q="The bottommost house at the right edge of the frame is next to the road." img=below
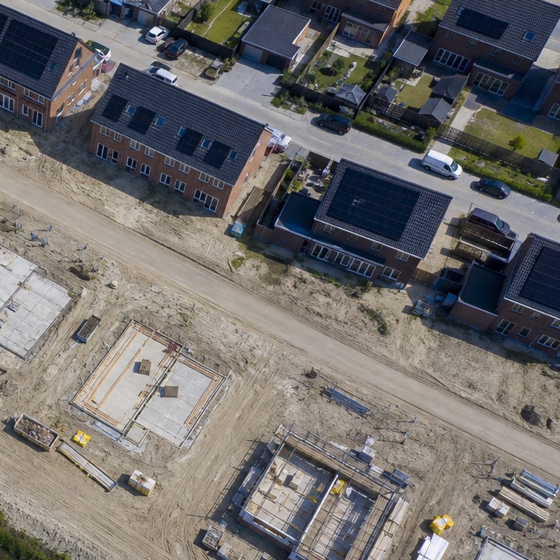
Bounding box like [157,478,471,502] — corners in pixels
[447,231,560,353]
